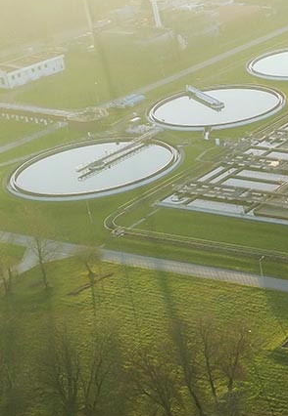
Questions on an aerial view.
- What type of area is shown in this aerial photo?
industrial area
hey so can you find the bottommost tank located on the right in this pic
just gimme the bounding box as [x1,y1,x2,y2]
[147,84,288,132]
